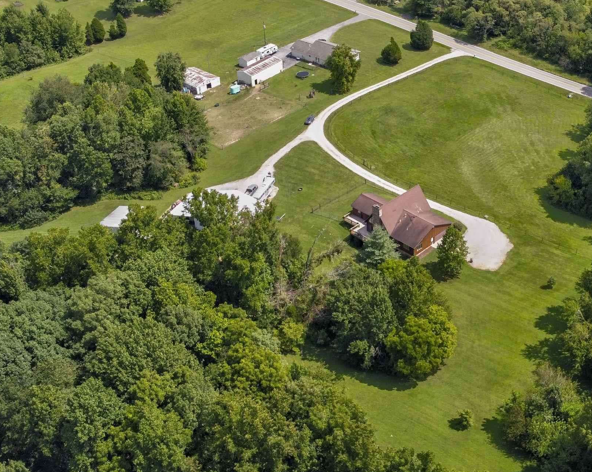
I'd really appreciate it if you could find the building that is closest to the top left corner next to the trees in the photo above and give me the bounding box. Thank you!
[173,69,224,93]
